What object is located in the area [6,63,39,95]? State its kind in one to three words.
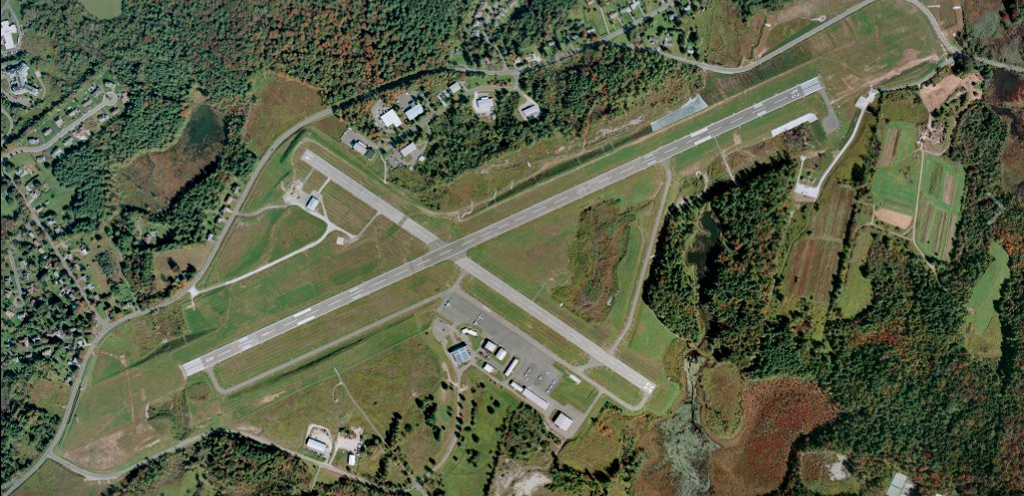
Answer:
building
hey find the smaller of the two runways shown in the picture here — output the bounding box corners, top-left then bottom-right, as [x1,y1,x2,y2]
[301,149,655,394]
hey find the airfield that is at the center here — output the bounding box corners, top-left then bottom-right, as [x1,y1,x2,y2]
[179,75,839,452]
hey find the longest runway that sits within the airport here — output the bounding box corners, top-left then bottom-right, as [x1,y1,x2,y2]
[182,75,825,377]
